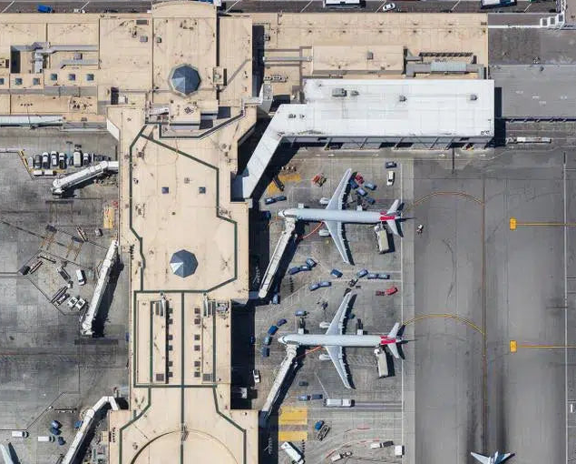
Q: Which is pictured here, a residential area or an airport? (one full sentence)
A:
The area seen from above is an airport.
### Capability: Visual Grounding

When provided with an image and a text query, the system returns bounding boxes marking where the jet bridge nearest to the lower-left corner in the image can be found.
[60,393,123,464]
